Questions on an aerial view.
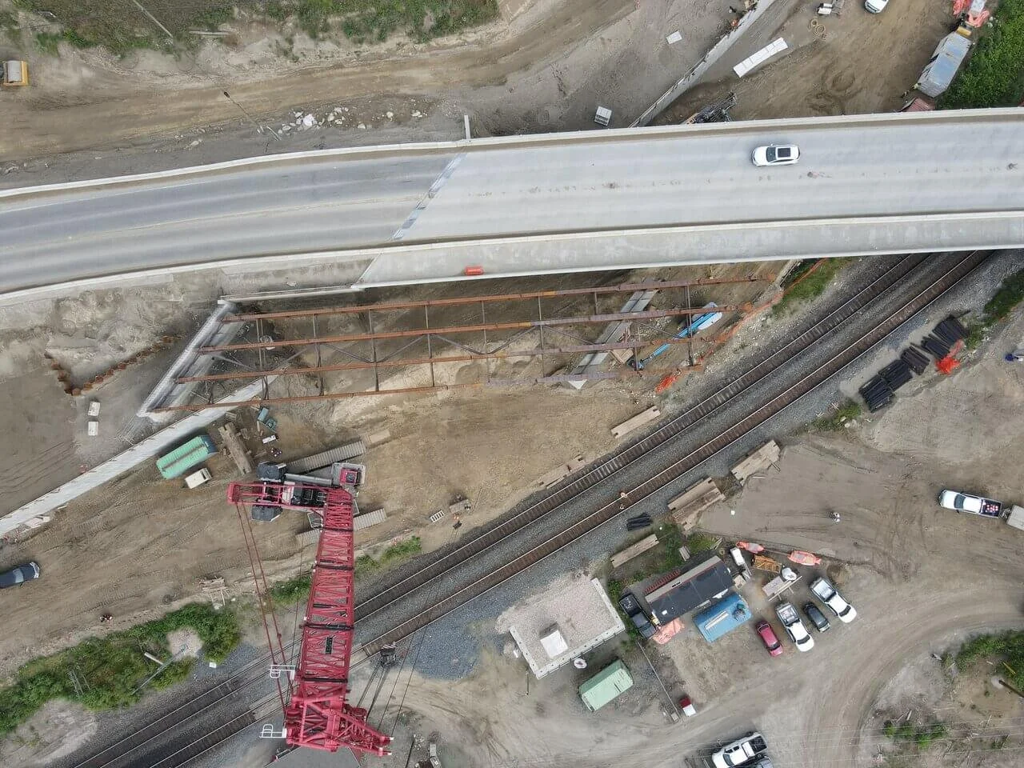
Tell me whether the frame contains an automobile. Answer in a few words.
Yes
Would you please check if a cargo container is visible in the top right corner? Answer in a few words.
Yes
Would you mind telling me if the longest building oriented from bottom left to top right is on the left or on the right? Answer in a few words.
right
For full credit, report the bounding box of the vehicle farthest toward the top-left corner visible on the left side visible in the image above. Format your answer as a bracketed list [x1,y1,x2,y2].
[0,61,31,88]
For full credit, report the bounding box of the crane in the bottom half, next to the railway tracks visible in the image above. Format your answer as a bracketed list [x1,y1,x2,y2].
[226,443,460,763]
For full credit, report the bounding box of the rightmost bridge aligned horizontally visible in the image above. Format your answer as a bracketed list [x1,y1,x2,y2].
[355,108,1024,288]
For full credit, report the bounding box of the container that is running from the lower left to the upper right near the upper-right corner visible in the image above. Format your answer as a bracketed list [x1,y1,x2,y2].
[907,35,972,100]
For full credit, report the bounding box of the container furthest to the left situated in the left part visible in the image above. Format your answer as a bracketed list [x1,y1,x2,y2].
[158,434,222,479]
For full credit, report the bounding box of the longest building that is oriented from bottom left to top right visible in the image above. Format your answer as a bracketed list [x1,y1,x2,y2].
[637,552,732,630]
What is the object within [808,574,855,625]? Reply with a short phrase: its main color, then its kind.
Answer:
white truck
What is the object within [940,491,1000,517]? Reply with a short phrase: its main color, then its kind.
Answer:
white truck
